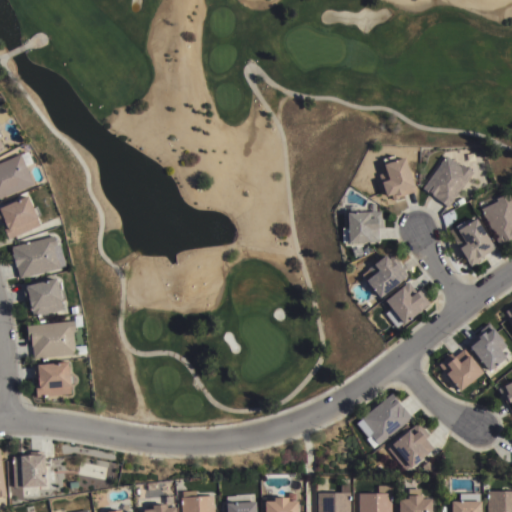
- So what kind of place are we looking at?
golf course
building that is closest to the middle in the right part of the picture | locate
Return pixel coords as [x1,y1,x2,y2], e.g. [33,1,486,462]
[348,212,382,246]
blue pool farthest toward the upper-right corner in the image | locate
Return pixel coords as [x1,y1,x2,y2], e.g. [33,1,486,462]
[348,192,366,206]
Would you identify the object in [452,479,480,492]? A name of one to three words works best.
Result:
swimming pool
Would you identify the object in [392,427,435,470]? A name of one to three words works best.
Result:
house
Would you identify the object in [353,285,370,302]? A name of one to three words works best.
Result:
swimming pool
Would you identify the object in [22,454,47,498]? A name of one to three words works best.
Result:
house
